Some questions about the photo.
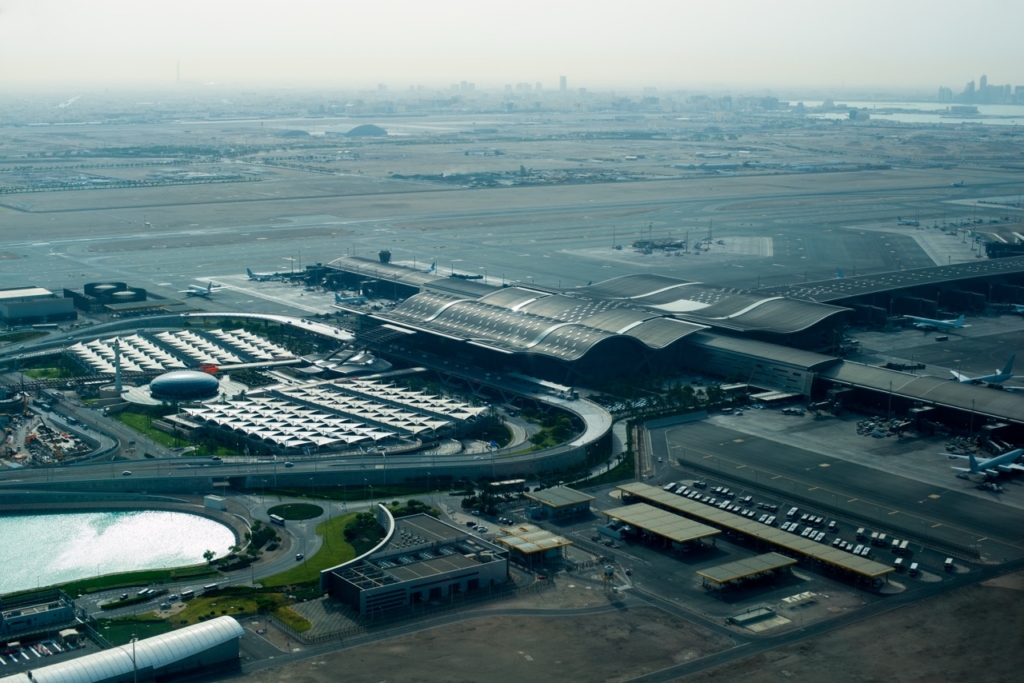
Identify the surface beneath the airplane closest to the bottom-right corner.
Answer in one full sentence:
It looks like the airplane closest to the bottom-right corner is sitting on the apron.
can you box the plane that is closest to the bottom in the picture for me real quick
[939,445,1024,470]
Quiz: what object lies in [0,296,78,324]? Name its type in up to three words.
building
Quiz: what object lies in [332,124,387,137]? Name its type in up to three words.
hangar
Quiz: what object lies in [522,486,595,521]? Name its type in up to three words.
building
